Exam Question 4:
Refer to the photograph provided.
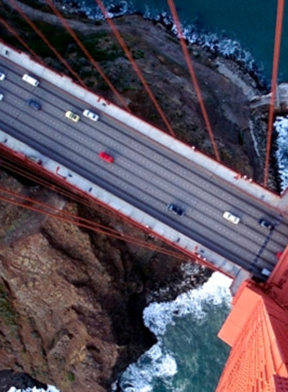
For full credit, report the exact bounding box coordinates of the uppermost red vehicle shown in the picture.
[99,150,117,164]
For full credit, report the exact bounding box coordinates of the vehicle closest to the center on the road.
[168,203,186,217]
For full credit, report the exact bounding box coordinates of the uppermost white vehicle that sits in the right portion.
[223,212,241,225]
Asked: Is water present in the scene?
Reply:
Yes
